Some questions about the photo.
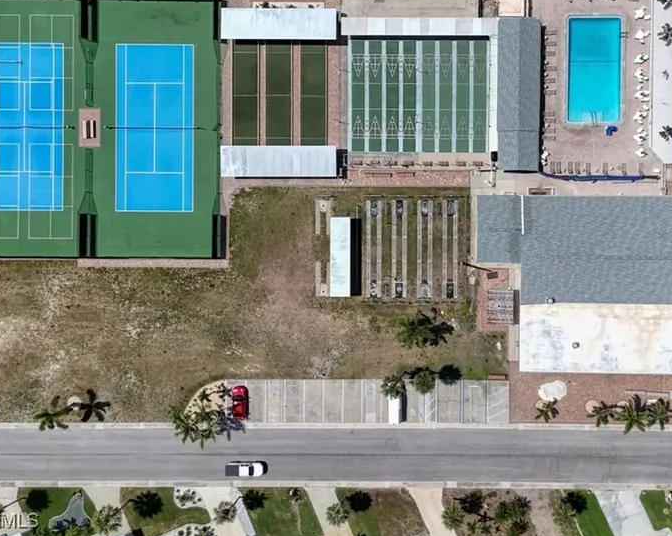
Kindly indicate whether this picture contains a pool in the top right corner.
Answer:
Yes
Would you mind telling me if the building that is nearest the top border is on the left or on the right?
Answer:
right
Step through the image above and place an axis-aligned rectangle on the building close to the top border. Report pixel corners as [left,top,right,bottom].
[497,17,541,172]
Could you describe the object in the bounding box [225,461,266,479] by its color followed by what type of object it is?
white vehicle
